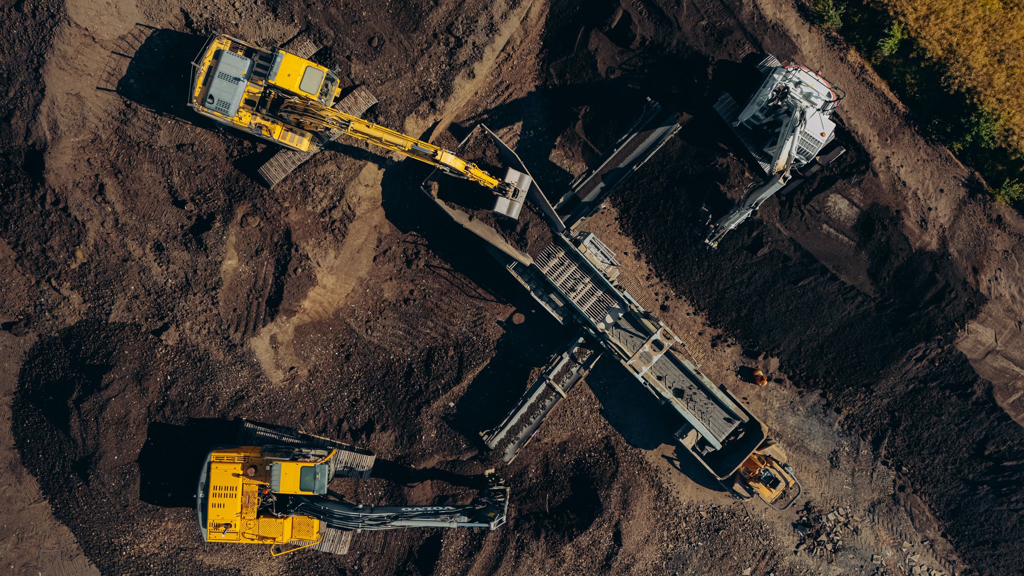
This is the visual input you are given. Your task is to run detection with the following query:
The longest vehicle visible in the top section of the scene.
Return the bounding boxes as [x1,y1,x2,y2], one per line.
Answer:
[187,30,535,222]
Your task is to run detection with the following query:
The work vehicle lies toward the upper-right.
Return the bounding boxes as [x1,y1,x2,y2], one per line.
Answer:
[696,53,848,247]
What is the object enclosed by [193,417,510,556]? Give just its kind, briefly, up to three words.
work vehicle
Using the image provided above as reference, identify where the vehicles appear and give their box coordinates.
[672,384,802,512]
[187,30,535,222]
[193,417,510,556]
[696,53,848,247]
